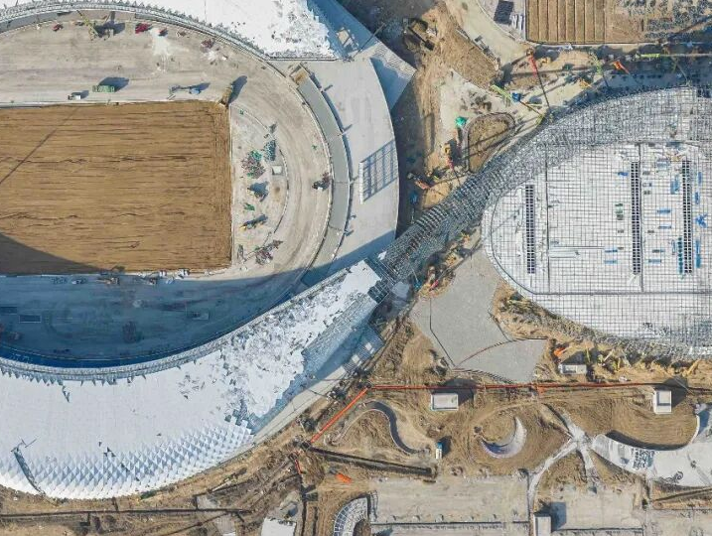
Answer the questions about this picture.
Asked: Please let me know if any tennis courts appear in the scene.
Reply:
No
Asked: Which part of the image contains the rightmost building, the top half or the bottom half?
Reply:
bottom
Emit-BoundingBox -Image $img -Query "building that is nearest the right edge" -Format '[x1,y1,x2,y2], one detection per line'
[653,390,674,416]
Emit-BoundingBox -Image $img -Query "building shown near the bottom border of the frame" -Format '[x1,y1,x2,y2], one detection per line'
[535,514,554,536]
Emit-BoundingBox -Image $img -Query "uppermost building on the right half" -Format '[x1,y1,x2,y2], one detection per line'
[560,363,588,377]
